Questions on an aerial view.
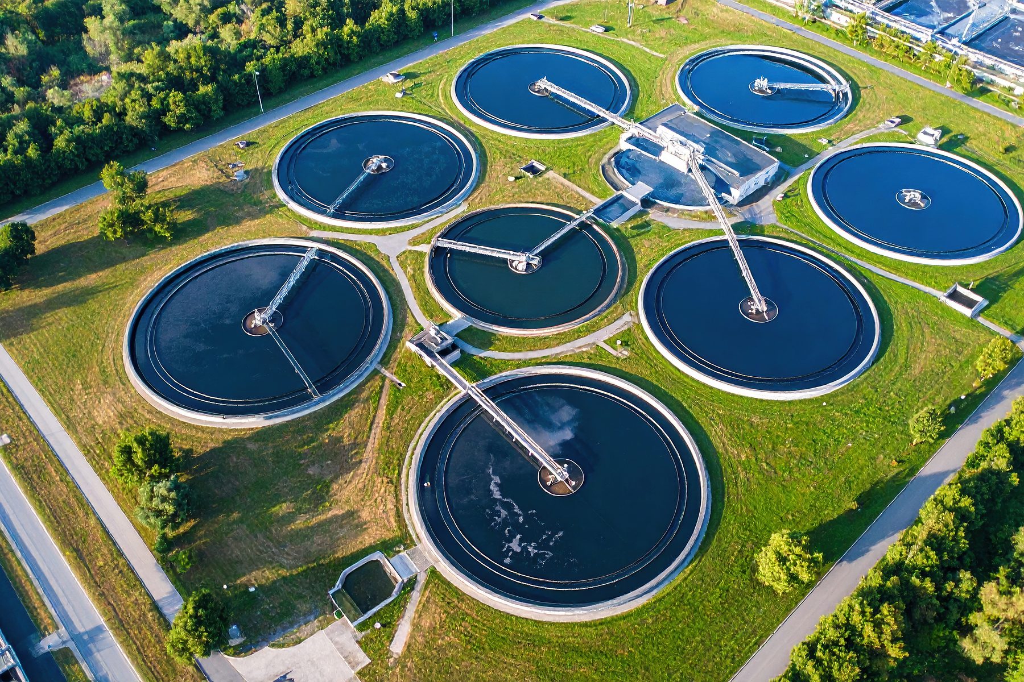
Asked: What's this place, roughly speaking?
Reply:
industrial area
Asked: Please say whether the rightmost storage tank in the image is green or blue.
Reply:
blue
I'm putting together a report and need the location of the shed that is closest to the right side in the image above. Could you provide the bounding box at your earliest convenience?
[917,119,945,146]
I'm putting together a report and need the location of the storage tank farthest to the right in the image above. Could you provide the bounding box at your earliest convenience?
[807,144,1019,267]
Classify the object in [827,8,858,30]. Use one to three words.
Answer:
shed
